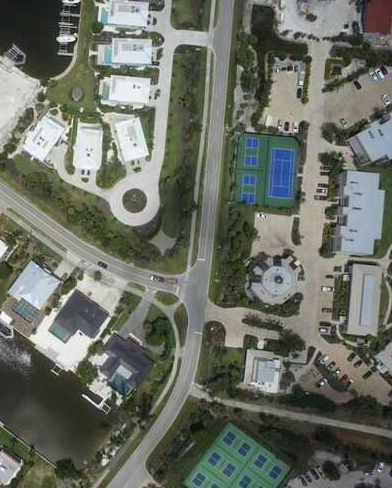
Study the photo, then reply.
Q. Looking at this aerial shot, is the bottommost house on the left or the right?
left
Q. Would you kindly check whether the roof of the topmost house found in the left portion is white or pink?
white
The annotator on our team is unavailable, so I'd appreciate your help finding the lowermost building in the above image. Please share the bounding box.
[0,449,23,483]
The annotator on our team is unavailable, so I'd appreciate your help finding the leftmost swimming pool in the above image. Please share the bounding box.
[15,300,35,321]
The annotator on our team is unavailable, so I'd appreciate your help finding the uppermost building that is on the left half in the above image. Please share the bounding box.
[105,0,147,31]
